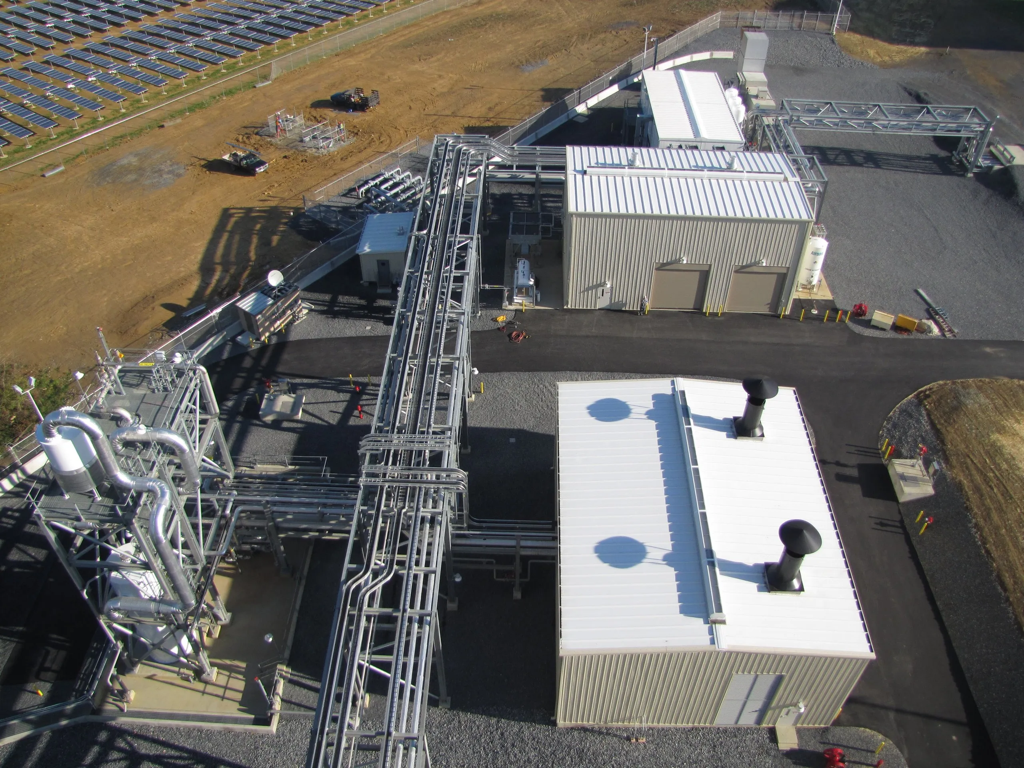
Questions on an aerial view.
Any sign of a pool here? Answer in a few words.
No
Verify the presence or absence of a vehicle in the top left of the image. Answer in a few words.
Yes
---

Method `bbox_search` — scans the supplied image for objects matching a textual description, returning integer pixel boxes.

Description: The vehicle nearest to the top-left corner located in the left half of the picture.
[217,145,270,179]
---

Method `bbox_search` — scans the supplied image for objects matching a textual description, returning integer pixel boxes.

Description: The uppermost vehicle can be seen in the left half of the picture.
[327,81,377,111]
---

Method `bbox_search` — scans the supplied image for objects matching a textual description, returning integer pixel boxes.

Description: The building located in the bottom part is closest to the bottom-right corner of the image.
[547,377,880,756]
